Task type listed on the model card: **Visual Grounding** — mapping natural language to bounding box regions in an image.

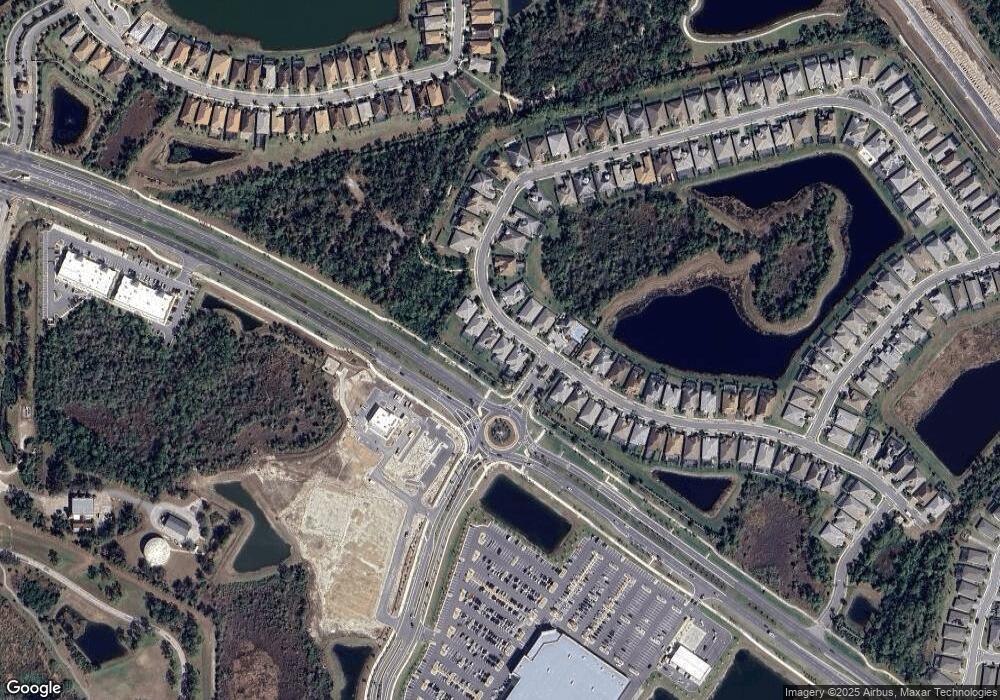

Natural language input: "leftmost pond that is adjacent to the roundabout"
[480,474,571,553]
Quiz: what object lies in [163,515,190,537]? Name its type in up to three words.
shed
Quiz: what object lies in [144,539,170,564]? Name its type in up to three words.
water tank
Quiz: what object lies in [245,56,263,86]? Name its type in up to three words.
house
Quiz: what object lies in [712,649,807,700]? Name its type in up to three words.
pond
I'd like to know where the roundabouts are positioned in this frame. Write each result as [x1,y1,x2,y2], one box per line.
[466,404,528,477]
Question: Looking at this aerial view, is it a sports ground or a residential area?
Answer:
residential area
